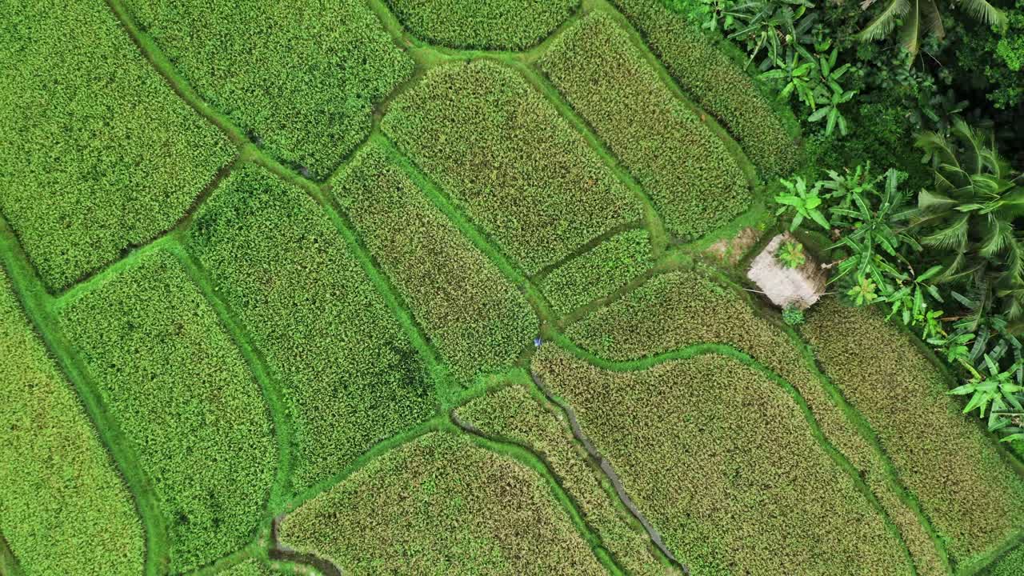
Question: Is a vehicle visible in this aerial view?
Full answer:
No, no vehicle is visible in the view.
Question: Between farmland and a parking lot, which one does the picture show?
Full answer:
What you see here is farmland.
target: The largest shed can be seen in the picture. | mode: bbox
[746,230,830,314]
